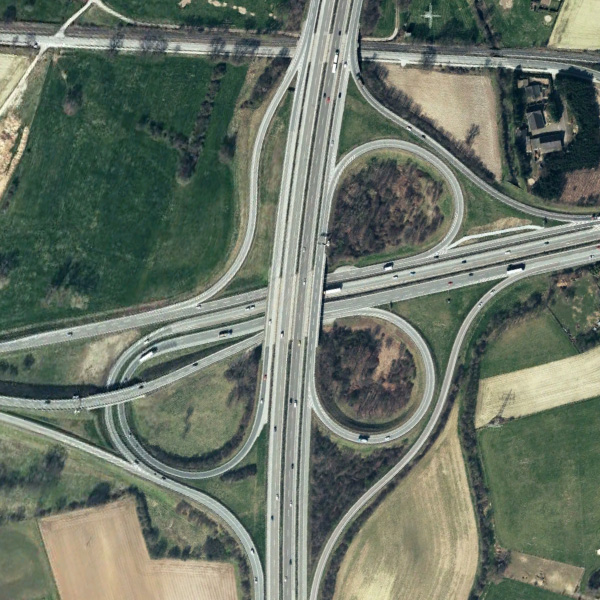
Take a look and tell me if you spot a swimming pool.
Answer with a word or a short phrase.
No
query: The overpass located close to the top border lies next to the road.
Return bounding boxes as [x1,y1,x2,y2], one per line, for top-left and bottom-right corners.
[294,22,362,72]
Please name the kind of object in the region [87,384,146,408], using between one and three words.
overpass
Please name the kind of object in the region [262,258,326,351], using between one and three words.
overpass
